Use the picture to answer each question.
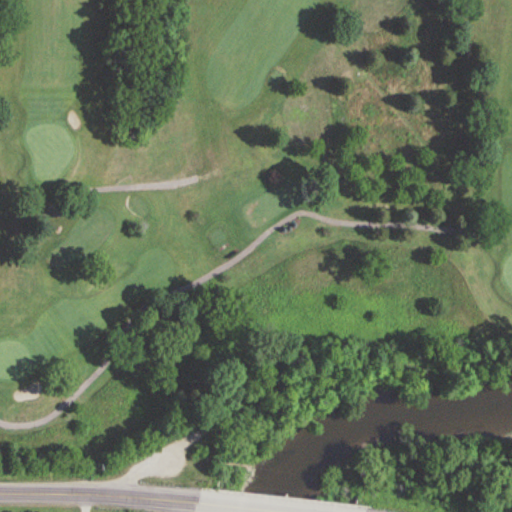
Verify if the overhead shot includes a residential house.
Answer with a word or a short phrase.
No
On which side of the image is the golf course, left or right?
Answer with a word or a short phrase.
left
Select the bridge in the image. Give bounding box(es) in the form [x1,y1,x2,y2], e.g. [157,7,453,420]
[199,490,368,512]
